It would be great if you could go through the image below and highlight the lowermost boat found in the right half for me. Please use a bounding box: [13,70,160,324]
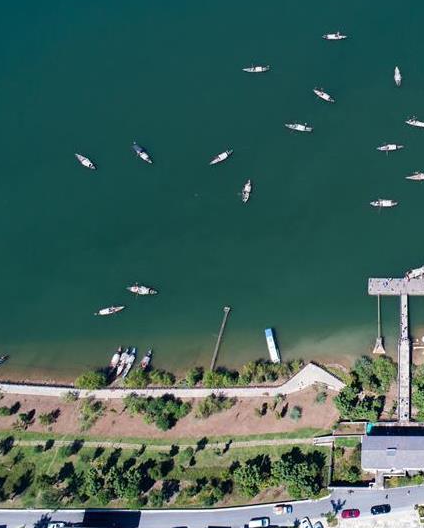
[264,328,281,364]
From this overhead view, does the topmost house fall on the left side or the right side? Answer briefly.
right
